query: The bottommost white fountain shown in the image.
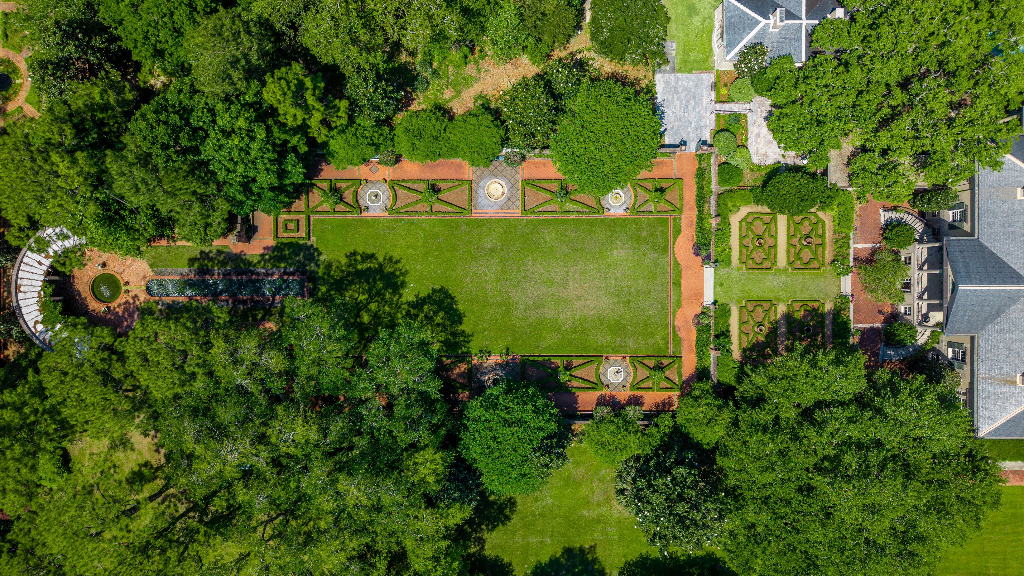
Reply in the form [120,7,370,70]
[608,366,624,382]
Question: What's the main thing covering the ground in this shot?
trees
